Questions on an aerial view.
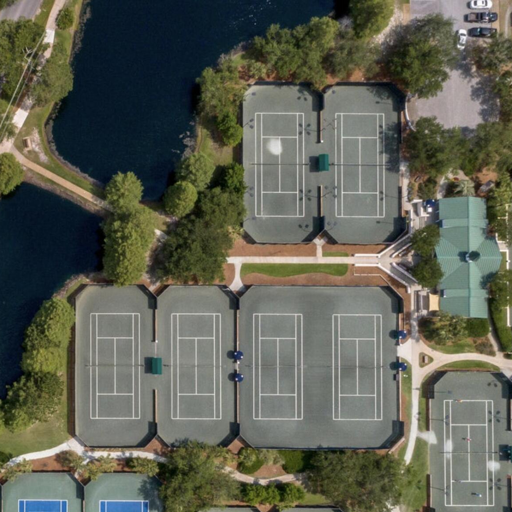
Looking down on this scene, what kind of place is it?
sports ground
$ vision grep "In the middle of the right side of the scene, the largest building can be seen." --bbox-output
[432,196,502,318]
